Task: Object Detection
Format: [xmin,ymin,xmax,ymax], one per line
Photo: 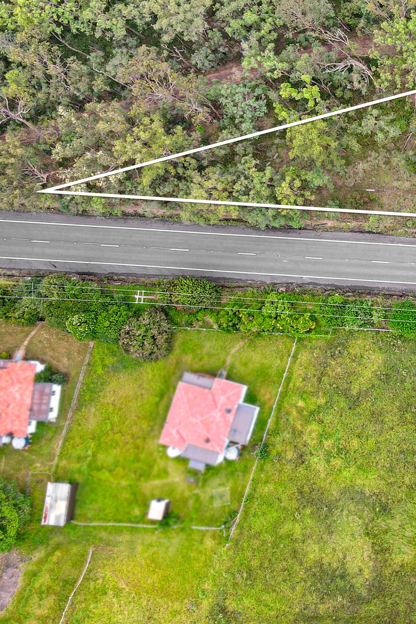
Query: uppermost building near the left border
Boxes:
[0,345,65,445]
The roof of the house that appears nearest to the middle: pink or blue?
pink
